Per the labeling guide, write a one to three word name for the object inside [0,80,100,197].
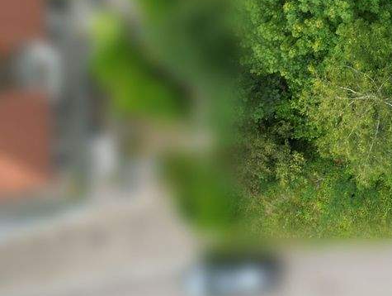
house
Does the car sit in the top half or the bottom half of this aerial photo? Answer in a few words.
bottom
